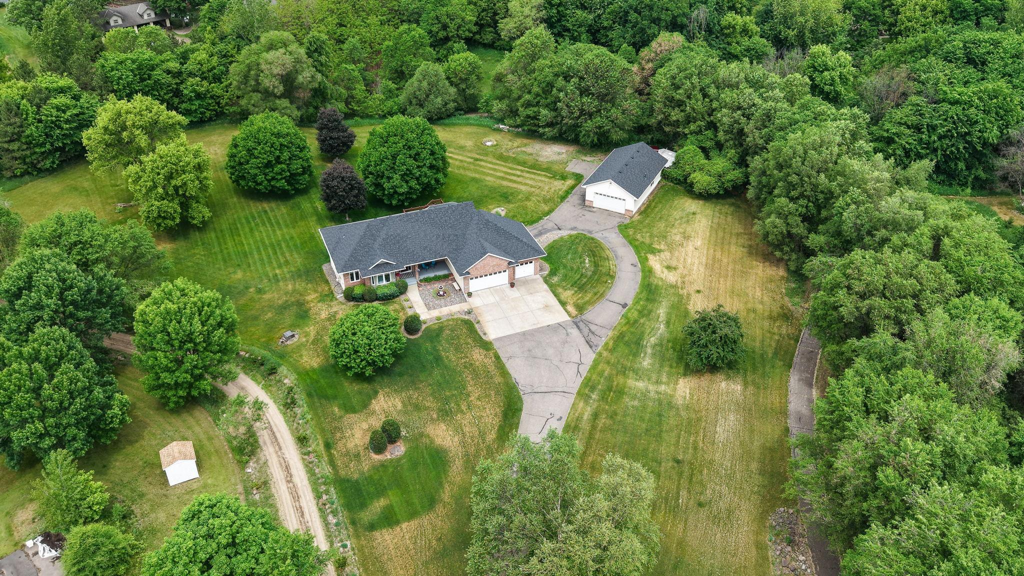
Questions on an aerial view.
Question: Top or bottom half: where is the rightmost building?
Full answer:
You can find the rightmost building in the top half.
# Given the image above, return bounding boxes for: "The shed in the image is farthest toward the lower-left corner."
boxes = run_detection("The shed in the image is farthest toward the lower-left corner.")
[159,441,200,486]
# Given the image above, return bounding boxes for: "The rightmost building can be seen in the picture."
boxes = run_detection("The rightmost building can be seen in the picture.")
[580,142,669,216]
